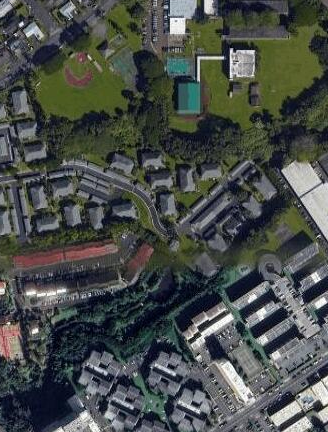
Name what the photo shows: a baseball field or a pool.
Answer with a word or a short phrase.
baseball field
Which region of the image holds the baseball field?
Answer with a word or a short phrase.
top left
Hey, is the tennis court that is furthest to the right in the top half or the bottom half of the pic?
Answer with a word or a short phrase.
bottom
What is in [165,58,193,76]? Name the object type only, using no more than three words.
tennis court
